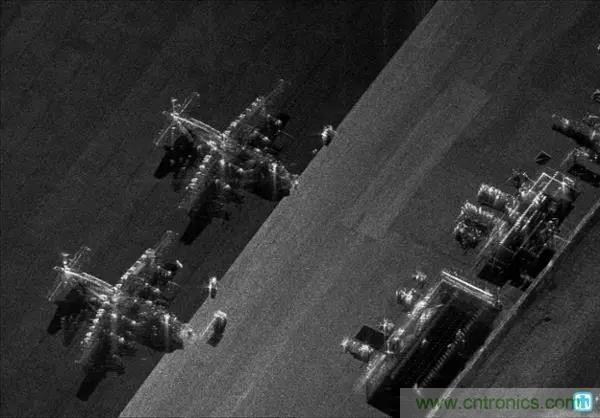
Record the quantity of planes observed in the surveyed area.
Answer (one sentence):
There are 2 planes in the image.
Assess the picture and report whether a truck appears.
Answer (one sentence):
Yes, a truck can be made out from above.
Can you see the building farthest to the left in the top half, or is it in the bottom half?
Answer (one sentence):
It is in the bottom half that the building farthest to the left appears.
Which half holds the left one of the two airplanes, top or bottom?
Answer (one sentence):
Seen from above, the left one of the two airplanes lies in the bottom half of the view.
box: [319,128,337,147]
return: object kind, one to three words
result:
vehicle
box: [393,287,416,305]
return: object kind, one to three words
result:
vehicle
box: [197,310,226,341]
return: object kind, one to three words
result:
truck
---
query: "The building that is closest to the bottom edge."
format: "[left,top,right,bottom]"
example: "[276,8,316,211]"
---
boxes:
[363,273,502,418]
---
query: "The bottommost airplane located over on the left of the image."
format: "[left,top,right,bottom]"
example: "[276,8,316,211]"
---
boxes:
[45,232,186,367]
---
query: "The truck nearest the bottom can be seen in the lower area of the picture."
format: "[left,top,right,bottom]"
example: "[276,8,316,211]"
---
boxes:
[341,339,377,365]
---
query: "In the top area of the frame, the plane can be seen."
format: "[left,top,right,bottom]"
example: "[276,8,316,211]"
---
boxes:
[154,81,293,212]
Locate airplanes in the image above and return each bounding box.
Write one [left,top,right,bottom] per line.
[45,232,186,367]
[154,81,293,212]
